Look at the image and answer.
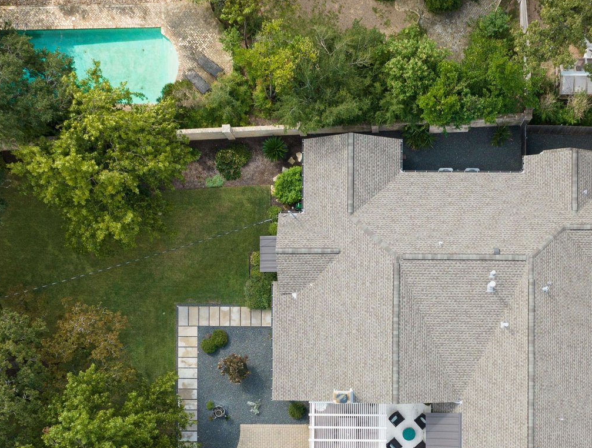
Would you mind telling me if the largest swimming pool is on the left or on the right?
left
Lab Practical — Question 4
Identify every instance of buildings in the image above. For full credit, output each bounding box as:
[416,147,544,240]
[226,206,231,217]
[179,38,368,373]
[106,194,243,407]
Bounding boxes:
[259,134,592,448]
[552,66,592,95]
